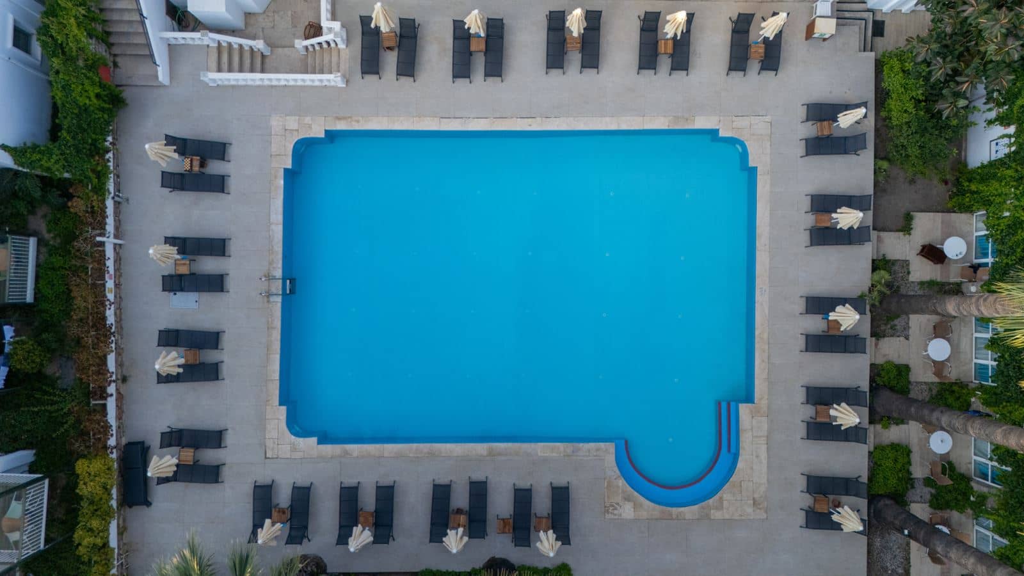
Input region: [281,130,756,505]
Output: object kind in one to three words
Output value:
swimming pool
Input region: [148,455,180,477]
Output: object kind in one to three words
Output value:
umbrella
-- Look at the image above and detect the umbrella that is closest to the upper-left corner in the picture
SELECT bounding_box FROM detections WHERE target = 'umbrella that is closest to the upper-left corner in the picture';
[145,143,182,164]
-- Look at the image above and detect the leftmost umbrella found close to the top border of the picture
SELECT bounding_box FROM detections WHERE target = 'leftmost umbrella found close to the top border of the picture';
[375,2,399,33]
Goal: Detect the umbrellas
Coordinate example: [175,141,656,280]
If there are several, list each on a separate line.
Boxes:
[539,529,560,556]
[349,523,371,551]
[827,503,862,531]
[824,305,860,329]
[148,455,180,477]
[145,143,182,164]
[258,517,287,543]
[375,2,399,33]
[826,209,862,231]
[831,108,865,131]
[825,405,859,426]
[445,521,469,552]
[757,14,786,44]
[156,353,191,375]
[662,11,686,41]
[467,10,488,40]
[565,9,587,40]
[150,241,186,264]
